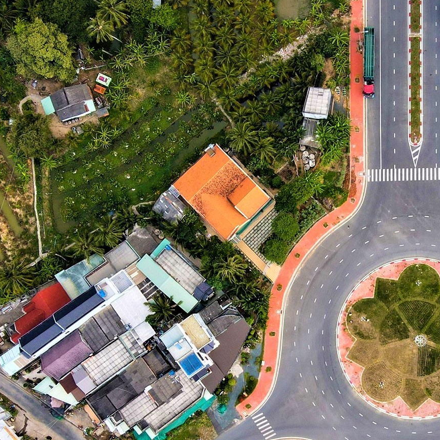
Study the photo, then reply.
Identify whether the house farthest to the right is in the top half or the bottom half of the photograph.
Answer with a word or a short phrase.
top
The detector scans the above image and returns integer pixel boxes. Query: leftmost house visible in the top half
[42,84,112,122]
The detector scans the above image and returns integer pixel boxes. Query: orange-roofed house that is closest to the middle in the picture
[153,143,274,239]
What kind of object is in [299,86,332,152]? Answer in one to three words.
house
